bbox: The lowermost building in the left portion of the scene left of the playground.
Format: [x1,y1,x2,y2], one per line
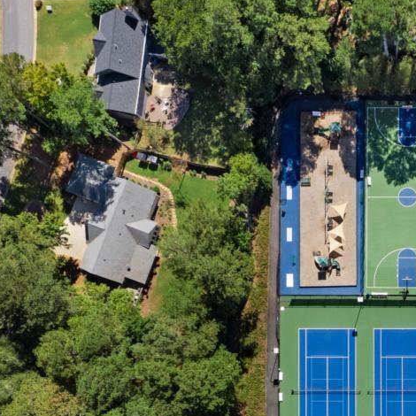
[66,155,166,284]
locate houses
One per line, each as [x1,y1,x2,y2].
[91,5,158,121]
[66,155,166,284]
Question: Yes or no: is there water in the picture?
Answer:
No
